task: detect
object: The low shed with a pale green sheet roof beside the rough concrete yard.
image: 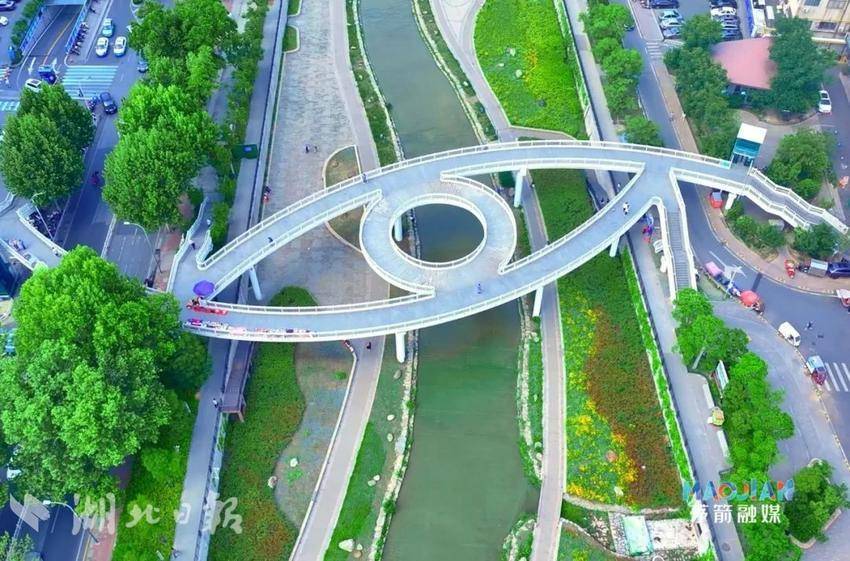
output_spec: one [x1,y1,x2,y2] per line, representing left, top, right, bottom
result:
[623,515,652,553]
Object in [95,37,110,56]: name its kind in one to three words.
car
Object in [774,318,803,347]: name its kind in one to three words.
vehicle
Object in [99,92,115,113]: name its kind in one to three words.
car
